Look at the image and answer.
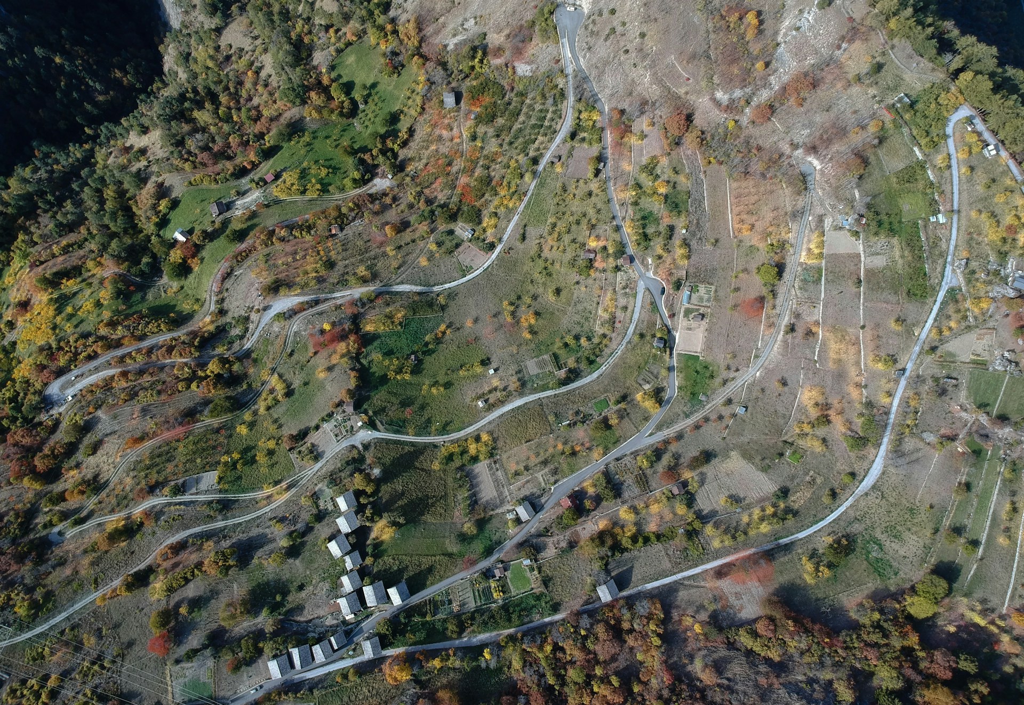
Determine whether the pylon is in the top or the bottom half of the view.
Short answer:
bottom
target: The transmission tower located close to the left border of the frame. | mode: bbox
[0,621,42,656]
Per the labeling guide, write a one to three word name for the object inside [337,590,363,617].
barn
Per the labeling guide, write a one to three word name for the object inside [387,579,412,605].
barn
